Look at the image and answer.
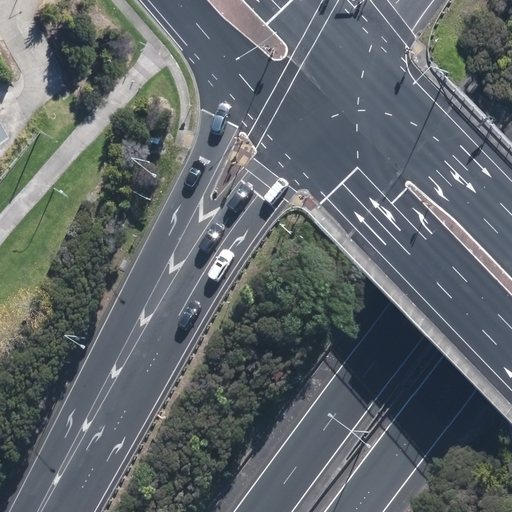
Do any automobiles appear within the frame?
Yes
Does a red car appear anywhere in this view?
No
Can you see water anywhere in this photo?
No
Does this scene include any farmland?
No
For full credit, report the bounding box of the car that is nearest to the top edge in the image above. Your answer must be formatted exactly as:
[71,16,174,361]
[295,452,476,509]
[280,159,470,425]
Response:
[210,102,232,137]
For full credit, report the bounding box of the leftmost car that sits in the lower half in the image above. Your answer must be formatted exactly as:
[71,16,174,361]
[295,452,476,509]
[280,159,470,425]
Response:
[178,299,204,332]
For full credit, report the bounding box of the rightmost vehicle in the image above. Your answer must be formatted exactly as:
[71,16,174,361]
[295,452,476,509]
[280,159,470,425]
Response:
[263,176,289,206]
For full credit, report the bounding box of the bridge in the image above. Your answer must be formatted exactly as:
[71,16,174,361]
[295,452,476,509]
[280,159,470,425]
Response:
[350,73,512,424]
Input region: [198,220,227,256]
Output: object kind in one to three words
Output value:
car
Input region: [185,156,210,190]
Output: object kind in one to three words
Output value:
car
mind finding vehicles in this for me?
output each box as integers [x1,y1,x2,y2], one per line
[210,102,232,137]
[198,220,227,256]
[185,156,210,190]
[226,180,256,216]
[207,247,236,284]
[263,176,289,206]
[178,299,204,332]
